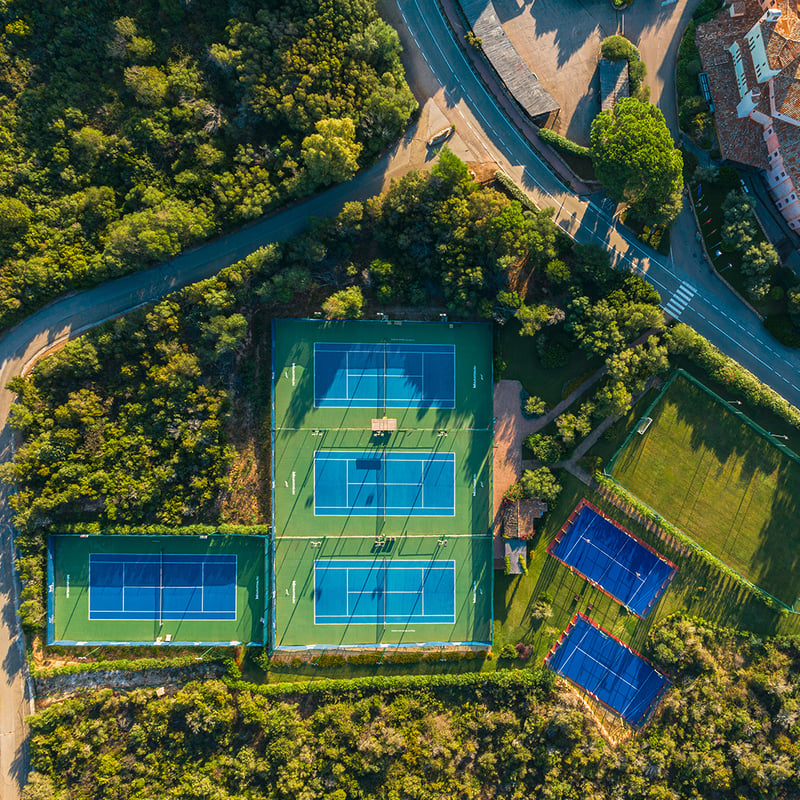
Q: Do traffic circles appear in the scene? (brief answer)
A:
No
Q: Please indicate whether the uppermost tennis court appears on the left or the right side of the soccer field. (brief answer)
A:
to its left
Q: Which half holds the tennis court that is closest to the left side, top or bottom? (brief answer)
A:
bottom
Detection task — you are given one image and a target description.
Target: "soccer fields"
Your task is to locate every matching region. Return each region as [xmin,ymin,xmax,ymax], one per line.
[607,374,800,609]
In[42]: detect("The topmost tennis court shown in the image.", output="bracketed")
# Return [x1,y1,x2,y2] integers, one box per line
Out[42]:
[275,322,491,429]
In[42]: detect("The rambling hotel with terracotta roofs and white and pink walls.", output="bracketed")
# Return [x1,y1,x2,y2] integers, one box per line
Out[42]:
[695,0,800,252]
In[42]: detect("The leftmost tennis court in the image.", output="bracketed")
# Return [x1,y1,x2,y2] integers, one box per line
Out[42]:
[54,538,267,644]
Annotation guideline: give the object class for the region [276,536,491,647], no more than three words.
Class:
tennis court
